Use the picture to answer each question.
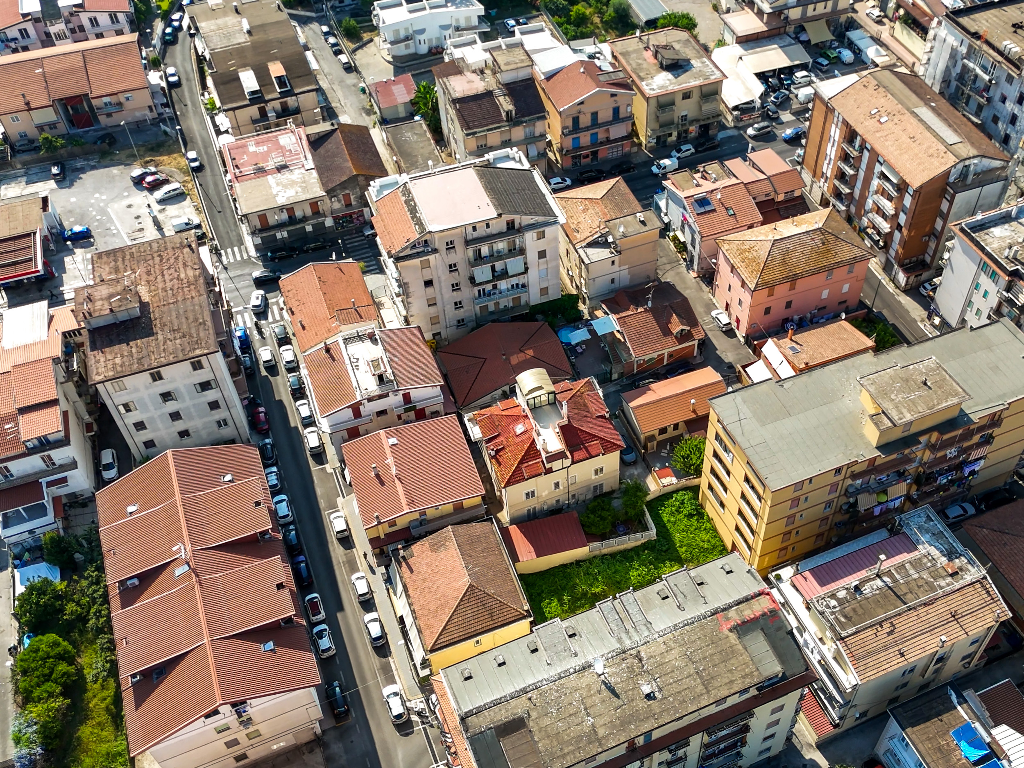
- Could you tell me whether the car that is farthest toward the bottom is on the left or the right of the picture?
right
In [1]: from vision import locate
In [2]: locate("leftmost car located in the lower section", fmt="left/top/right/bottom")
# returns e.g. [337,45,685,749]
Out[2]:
[99,448,120,480]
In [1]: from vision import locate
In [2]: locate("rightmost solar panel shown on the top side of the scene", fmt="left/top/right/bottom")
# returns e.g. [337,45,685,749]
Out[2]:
[695,191,713,210]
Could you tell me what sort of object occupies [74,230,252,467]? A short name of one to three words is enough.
building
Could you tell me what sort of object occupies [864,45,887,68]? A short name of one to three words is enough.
gazebo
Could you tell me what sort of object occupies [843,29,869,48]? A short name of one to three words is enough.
gazebo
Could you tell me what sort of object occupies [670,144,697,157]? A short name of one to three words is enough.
vehicle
